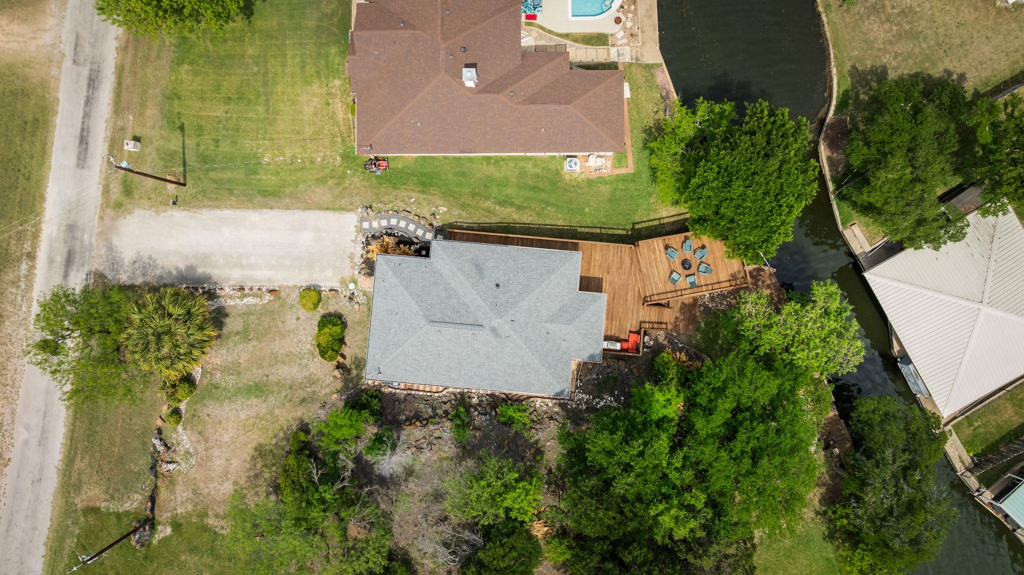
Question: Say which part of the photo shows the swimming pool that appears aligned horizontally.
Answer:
top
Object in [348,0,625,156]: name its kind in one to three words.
house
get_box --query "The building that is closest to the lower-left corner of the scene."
[363,237,608,400]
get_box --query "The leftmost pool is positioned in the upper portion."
[568,0,620,20]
